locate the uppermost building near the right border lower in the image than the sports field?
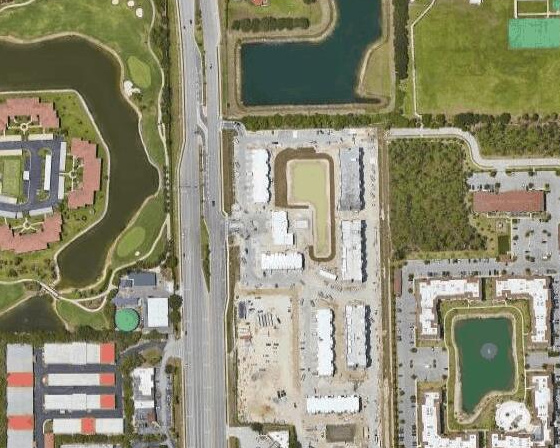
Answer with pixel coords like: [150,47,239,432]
[474,191,545,212]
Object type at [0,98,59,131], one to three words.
building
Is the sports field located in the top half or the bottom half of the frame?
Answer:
top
